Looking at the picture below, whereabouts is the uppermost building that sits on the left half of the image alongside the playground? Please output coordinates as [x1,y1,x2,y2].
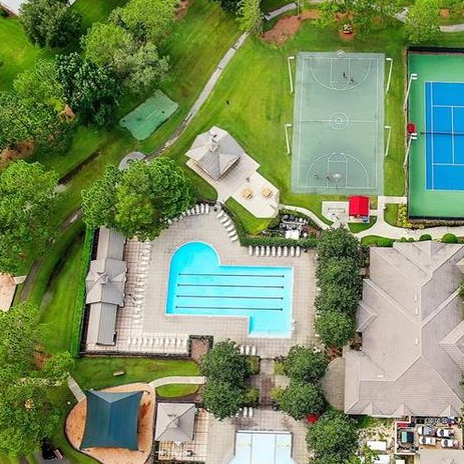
[85,226,129,347]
